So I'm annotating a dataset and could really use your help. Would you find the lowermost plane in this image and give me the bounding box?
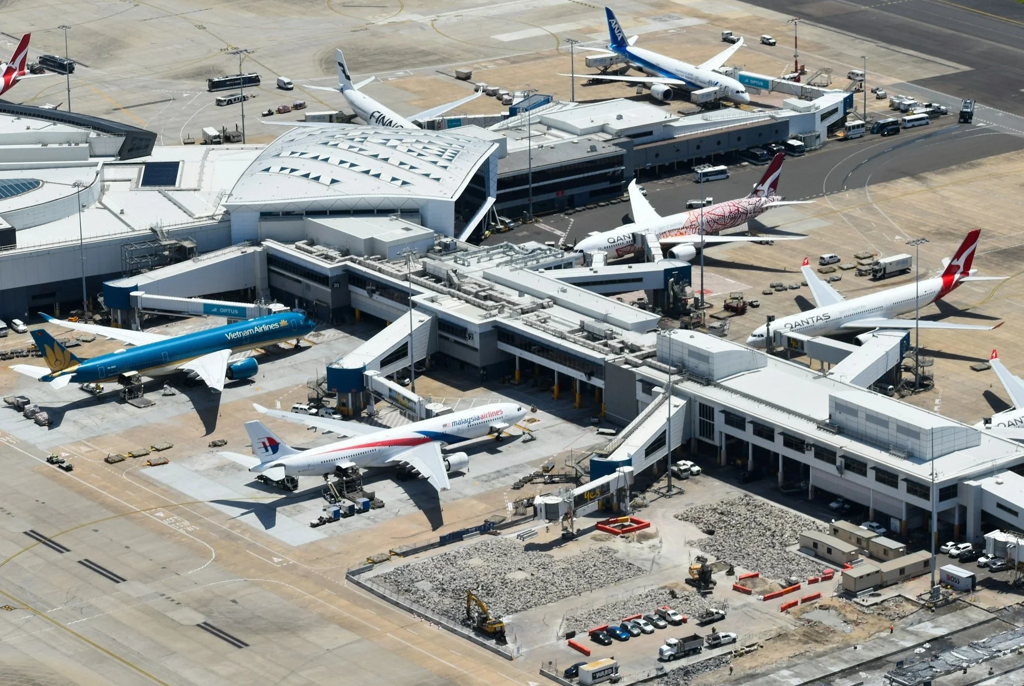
[218,398,525,491]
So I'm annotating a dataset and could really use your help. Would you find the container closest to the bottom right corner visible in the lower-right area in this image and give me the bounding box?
[939,565,975,591]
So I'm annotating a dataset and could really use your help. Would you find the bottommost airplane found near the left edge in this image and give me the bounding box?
[18,308,316,387]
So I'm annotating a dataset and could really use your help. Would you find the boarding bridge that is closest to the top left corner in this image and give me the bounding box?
[126,292,292,331]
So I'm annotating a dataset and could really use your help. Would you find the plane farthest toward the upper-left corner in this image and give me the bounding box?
[0,33,53,90]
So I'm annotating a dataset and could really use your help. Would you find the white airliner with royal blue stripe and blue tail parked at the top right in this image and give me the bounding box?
[560,8,751,105]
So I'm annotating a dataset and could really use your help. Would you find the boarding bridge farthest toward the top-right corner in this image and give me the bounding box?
[712,65,825,105]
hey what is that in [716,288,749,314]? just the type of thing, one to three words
work vehicle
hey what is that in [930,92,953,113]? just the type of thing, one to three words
vehicle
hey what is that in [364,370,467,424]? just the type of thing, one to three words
jet bridge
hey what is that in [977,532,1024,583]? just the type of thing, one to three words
jet bridge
